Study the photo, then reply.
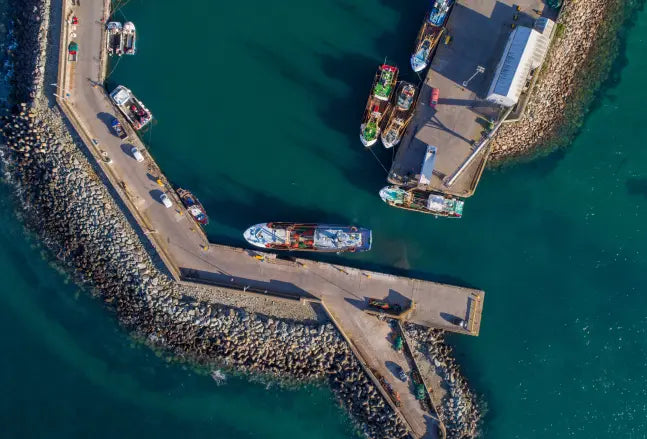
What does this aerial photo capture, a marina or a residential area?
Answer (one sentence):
This image shows a marina.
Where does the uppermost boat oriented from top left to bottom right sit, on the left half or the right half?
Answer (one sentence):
The uppermost boat oriented from top left to bottom right is on the left side of the image.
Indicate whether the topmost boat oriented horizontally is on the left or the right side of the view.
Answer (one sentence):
The topmost boat oriented horizontally appears in the right half of the scene.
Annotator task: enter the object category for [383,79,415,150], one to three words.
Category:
boat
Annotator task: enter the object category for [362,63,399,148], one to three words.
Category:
boat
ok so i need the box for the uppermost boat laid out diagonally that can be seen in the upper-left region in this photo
[112,85,153,130]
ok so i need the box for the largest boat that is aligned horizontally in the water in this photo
[243,221,373,255]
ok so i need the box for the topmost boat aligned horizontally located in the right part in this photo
[378,189,465,219]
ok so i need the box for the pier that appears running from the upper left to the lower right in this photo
[46,0,485,439]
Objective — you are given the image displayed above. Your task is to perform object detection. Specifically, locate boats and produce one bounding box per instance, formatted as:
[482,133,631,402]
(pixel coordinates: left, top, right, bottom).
[243,221,373,255]
[109,21,123,57]
[362,63,399,148]
[112,85,153,130]
[383,79,415,150]
[378,189,465,219]
[123,21,137,57]
[411,0,456,75]
[175,186,209,225]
